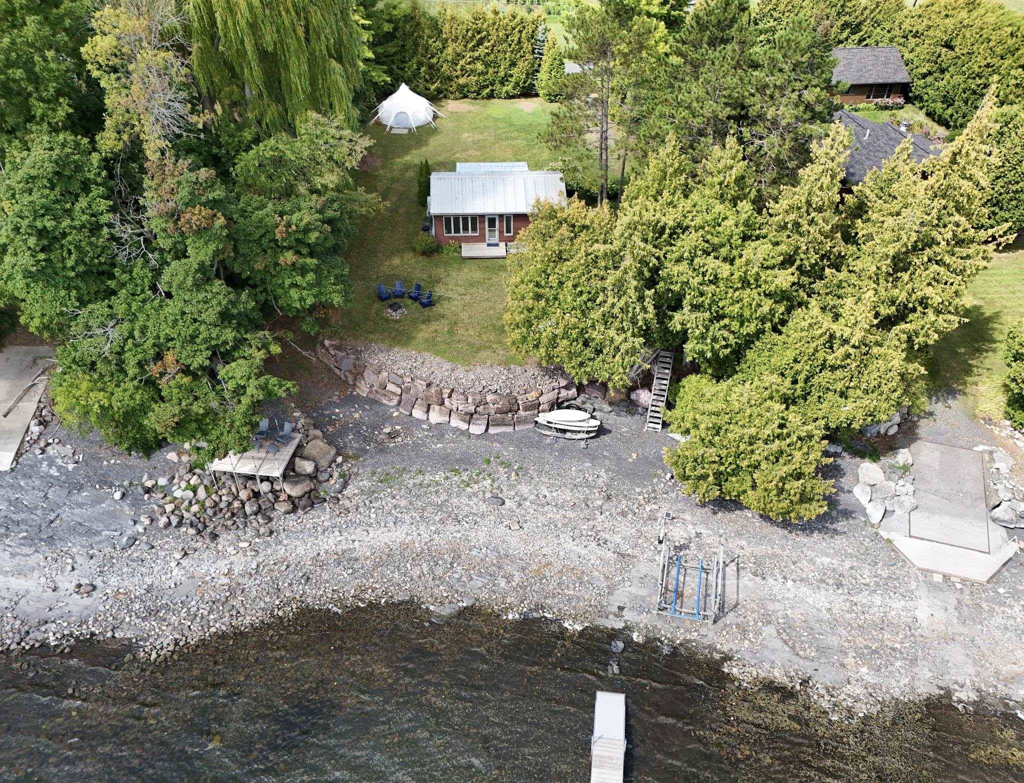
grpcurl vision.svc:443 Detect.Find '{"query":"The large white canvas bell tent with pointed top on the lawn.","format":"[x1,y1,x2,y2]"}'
[364,82,447,138]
